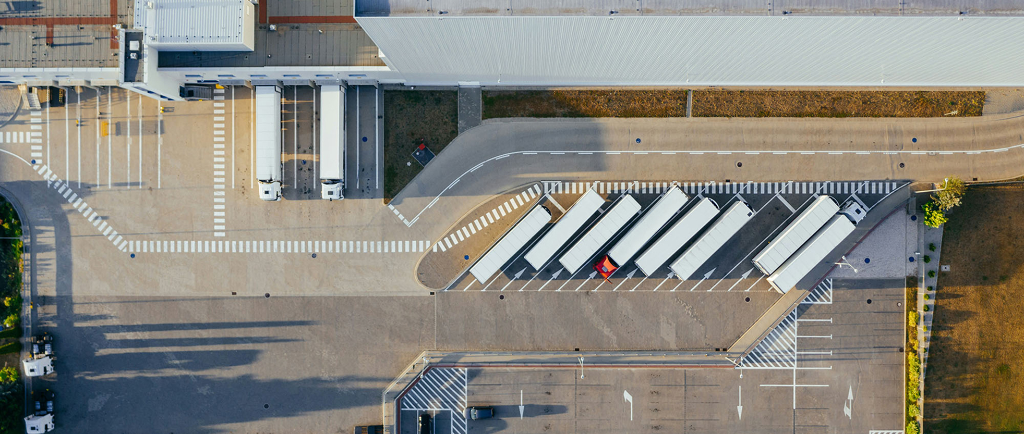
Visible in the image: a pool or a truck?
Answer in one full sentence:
It is a truck that can be seen here.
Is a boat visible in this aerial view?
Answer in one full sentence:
No, no boat is visible in the scene.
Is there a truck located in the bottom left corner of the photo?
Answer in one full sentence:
Yes, you'll find a truck in the bottom left corner of the photo.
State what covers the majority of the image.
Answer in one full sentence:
Most of the picture is covered by paved ground.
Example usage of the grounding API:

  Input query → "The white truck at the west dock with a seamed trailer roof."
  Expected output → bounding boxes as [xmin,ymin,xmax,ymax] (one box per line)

[256,85,284,201]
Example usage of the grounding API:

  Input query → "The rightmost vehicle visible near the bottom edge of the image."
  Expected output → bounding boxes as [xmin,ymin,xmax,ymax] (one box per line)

[463,405,494,421]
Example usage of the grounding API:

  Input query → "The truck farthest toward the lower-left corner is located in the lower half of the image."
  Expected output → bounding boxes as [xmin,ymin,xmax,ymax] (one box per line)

[23,390,57,434]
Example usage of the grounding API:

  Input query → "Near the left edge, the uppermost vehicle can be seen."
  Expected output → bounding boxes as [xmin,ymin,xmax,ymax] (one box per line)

[21,333,56,377]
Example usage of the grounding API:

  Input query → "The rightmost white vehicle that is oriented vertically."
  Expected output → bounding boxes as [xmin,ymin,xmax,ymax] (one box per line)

[321,85,346,201]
